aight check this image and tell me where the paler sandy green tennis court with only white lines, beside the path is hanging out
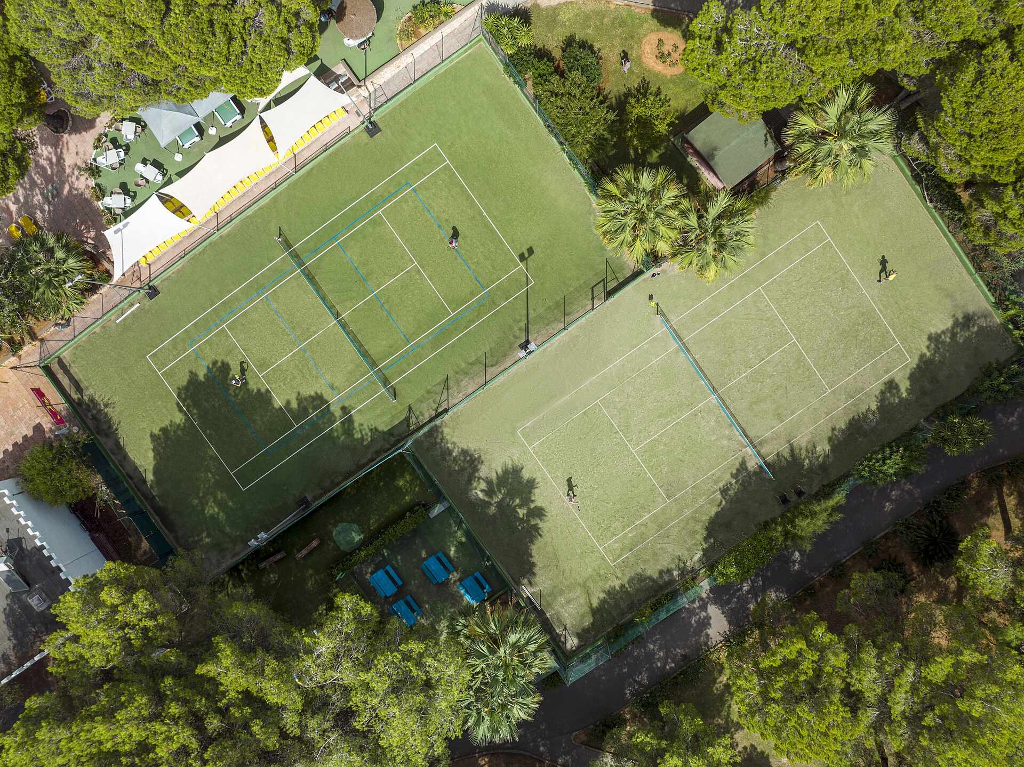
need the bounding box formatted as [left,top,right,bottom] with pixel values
[412,130,1019,658]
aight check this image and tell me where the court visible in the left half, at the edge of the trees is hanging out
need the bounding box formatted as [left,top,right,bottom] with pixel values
[41,43,641,577]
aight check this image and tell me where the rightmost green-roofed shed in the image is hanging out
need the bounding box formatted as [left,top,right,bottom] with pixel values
[682,101,780,195]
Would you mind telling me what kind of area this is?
sports ground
